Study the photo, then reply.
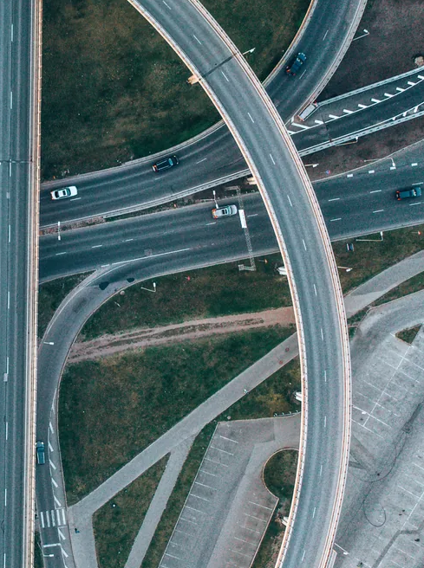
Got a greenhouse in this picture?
No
